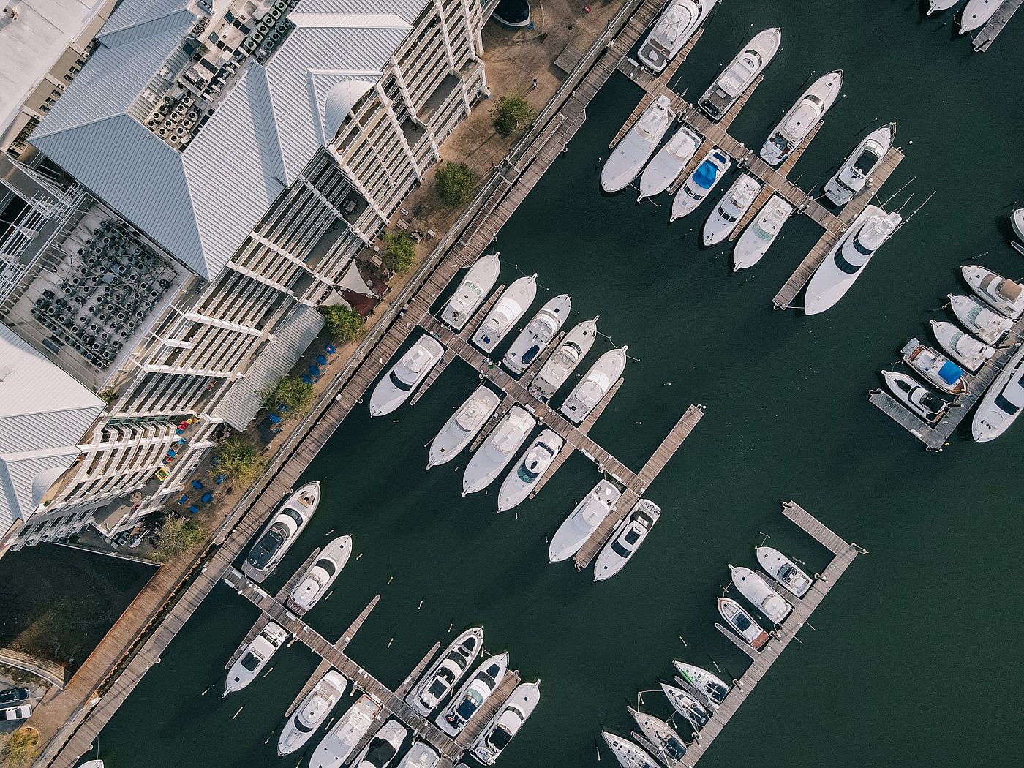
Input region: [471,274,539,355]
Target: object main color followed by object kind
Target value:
white boat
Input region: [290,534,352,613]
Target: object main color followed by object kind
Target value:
white boat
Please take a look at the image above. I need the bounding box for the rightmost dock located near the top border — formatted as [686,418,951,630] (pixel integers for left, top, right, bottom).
[971,0,1022,53]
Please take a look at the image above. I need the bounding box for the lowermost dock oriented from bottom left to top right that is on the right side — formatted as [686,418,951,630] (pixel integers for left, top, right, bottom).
[630,500,855,768]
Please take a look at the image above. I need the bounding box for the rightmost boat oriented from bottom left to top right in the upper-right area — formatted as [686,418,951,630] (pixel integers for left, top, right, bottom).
[958,0,1005,32]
